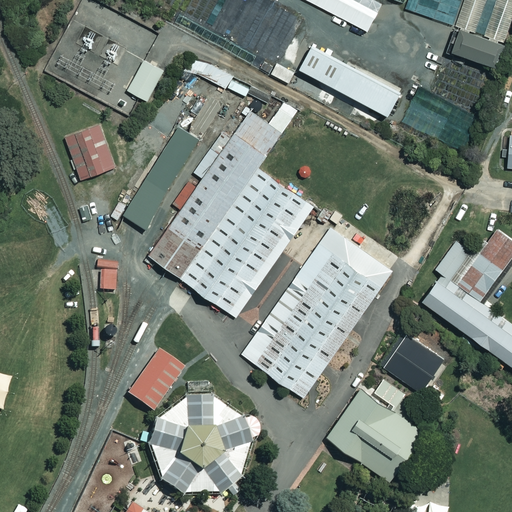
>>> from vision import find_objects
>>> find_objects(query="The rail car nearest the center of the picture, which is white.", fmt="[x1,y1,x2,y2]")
[134,323,147,344]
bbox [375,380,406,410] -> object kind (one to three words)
house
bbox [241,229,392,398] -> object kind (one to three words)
building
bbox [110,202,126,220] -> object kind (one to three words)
camper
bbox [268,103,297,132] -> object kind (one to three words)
shed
